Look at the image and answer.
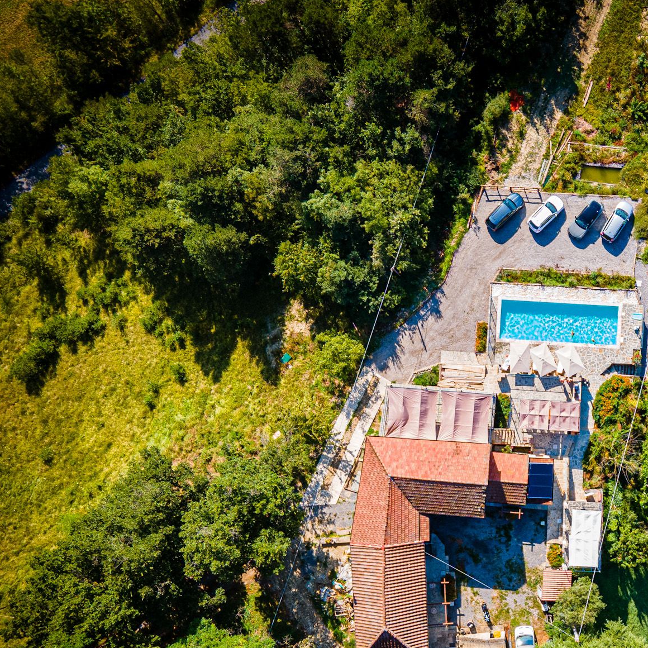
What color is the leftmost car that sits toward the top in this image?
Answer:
blue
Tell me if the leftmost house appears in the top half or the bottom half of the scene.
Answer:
bottom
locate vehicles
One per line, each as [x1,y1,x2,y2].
[526,196,563,235]
[485,192,524,234]
[568,198,604,241]
[599,201,631,244]
[482,603,492,621]
[513,623,537,648]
